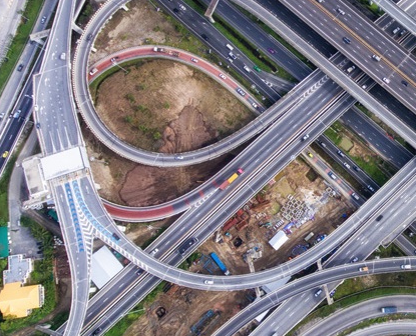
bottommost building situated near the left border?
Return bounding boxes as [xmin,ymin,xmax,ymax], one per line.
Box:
[0,281,51,311]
